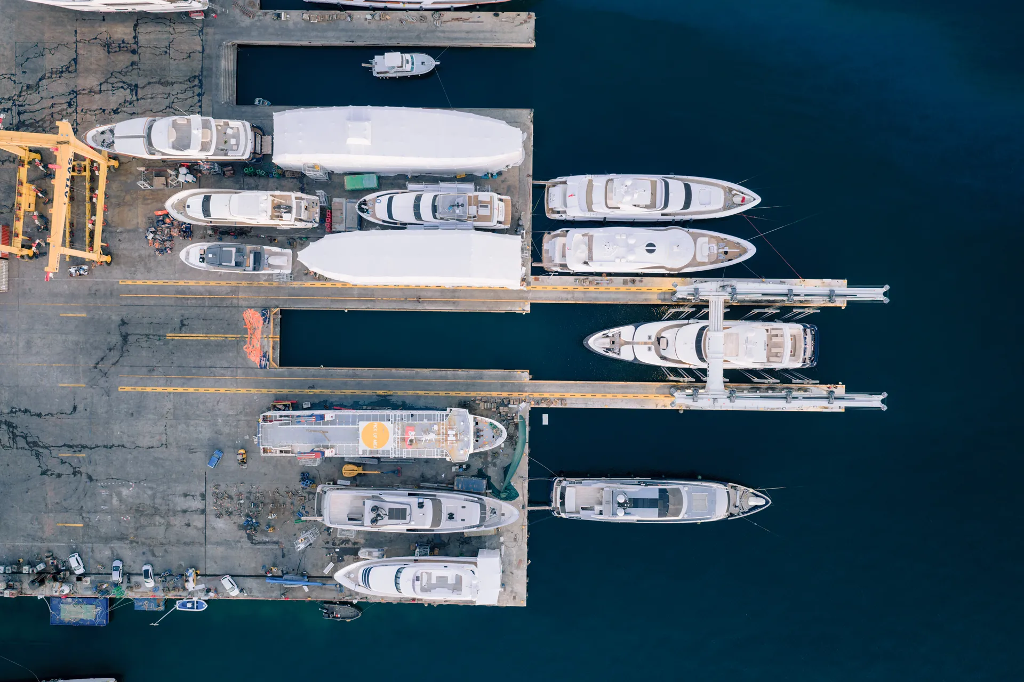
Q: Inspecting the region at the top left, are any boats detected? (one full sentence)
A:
Yes, a boat is visible at the top left.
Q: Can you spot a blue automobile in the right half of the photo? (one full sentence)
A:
No, I can find no blue automobile in the right half of the photo.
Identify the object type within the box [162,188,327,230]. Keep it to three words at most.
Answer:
boat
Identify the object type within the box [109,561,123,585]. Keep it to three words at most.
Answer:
car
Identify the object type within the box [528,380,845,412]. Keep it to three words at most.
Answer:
pier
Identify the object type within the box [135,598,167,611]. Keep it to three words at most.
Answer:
pier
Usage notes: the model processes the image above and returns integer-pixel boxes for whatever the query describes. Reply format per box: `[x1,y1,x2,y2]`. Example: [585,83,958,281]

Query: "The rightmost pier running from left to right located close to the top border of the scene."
[260,9,535,50]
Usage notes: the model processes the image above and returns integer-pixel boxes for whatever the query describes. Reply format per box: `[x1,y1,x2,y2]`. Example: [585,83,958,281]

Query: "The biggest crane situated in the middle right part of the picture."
[658,281,889,412]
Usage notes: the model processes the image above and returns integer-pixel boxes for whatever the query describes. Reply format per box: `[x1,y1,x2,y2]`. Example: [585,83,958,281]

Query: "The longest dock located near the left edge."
[50,597,112,626]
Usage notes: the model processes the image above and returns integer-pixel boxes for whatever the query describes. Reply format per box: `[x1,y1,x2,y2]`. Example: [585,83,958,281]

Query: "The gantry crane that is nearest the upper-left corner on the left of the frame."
[0,117,128,294]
